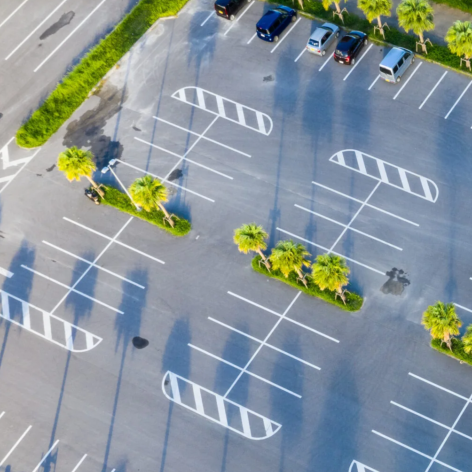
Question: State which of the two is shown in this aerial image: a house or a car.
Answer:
car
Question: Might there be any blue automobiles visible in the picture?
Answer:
Yes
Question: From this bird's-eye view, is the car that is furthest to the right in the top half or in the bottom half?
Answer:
top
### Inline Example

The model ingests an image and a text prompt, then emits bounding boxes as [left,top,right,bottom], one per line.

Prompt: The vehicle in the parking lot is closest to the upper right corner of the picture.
[378,45,413,81]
